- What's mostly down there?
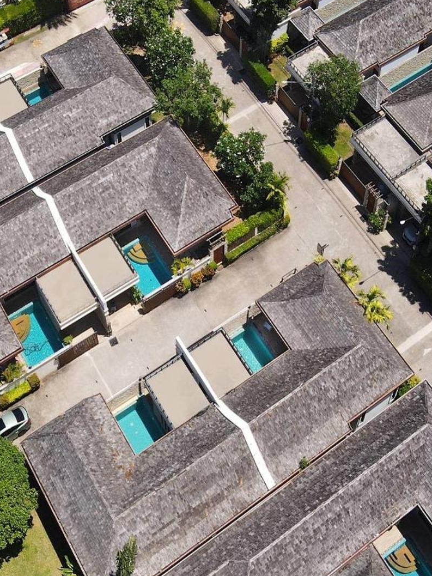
buildings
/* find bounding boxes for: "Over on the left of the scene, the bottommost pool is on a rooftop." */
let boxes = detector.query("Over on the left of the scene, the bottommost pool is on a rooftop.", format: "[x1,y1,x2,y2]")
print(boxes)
[114,393,171,451]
